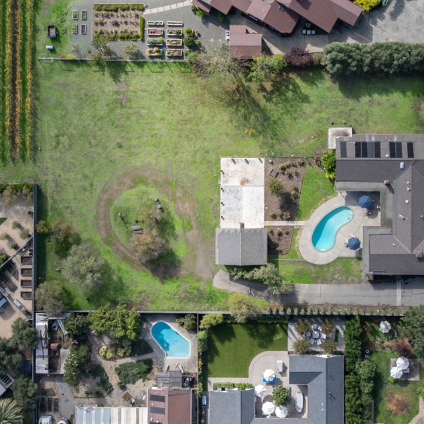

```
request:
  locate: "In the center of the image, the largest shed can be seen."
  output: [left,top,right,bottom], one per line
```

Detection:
[216,226,267,266]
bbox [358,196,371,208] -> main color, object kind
blue umbrella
